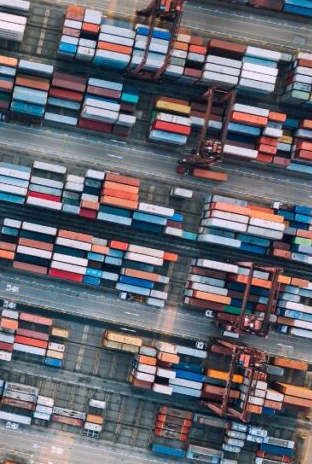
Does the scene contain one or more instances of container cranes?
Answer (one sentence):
Yes, there's a container crane down there.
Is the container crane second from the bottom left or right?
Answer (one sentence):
The container crane second from the bottom sits on the right side.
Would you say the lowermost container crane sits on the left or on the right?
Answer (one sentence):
You can find the lowermost container crane on the right side of the picture.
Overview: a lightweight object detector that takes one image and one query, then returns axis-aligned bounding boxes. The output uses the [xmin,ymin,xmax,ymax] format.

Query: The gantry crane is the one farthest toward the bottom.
[197,335,261,425]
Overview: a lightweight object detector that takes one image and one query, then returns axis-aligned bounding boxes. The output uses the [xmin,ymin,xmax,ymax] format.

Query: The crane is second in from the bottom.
[214,257,280,340]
